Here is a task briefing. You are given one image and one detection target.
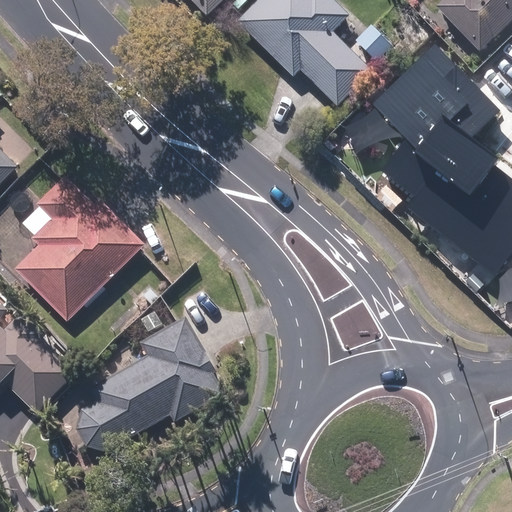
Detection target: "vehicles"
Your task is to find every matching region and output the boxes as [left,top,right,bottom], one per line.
[272,96,292,126]
[484,68,512,99]
[142,224,162,254]
[269,185,294,211]
[380,369,407,384]
[122,108,150,137]
[502,42,512,62]
[279,448,298,486]
[196,290,221,320]
[498,58,512,84]
[184,297,208,328]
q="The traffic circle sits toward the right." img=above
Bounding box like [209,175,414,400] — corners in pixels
[293,384,438,512]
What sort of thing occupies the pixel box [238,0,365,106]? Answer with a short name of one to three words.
house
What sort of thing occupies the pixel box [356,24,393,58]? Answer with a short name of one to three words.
shed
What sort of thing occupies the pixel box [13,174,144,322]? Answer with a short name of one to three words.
house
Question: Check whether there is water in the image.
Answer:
No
